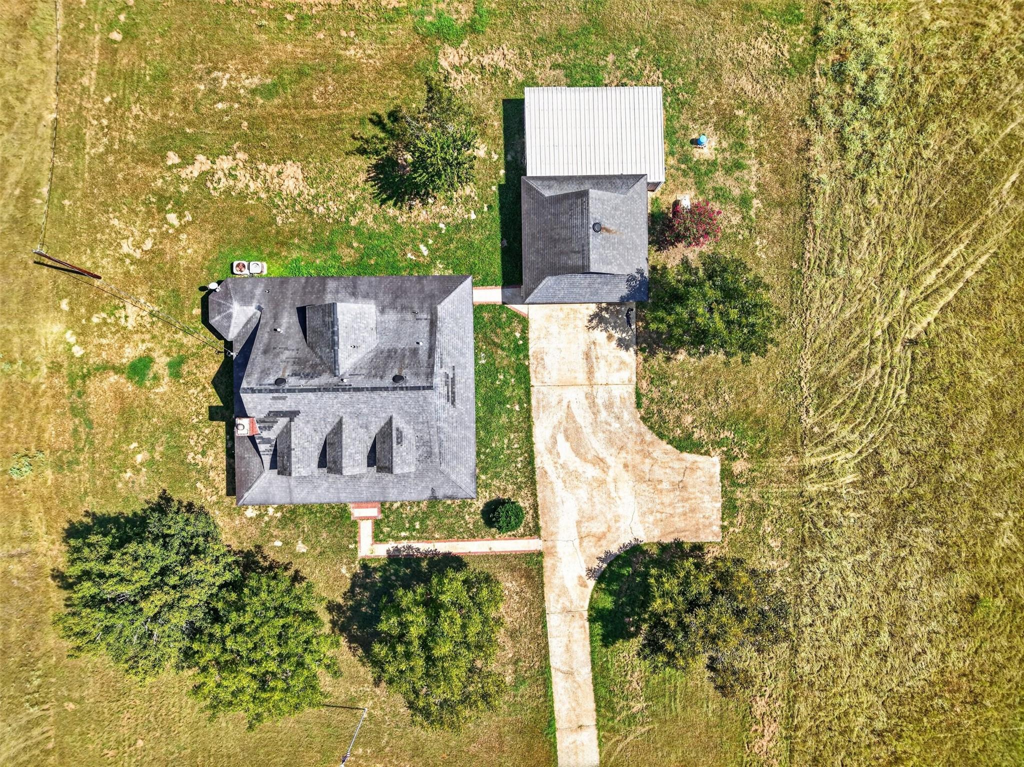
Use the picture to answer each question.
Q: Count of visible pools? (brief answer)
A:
0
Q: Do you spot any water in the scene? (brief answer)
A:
No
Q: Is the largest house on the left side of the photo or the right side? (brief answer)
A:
left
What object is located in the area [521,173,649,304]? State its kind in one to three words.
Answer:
building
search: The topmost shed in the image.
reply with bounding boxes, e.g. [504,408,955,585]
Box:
[525,86,665,191]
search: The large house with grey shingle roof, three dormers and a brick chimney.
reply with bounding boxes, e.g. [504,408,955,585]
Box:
[208,275,477,506]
